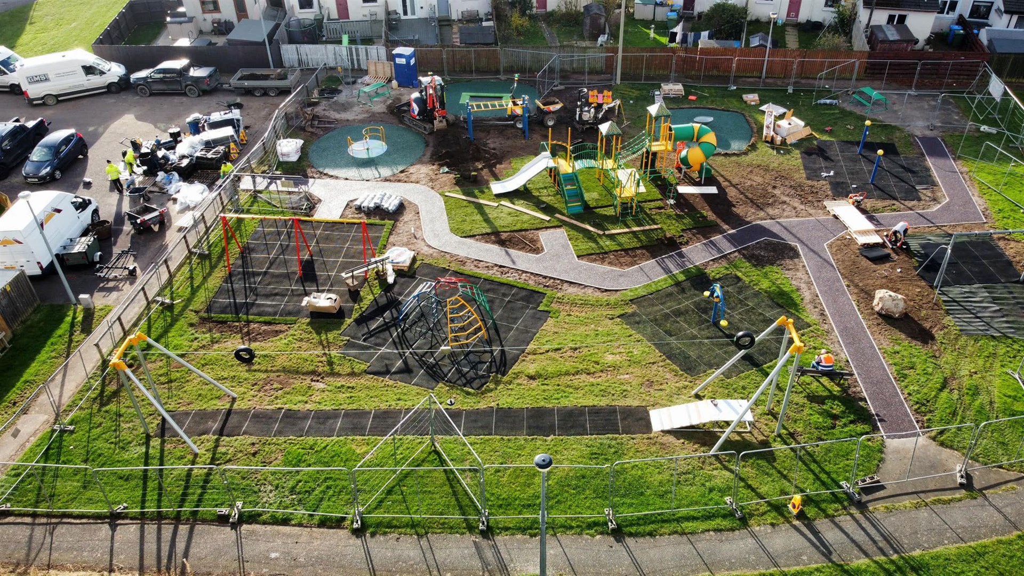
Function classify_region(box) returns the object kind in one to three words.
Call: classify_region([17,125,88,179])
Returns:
car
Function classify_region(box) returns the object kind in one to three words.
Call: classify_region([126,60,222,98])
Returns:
truck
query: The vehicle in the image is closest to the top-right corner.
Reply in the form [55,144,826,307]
[571,88,622,131]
